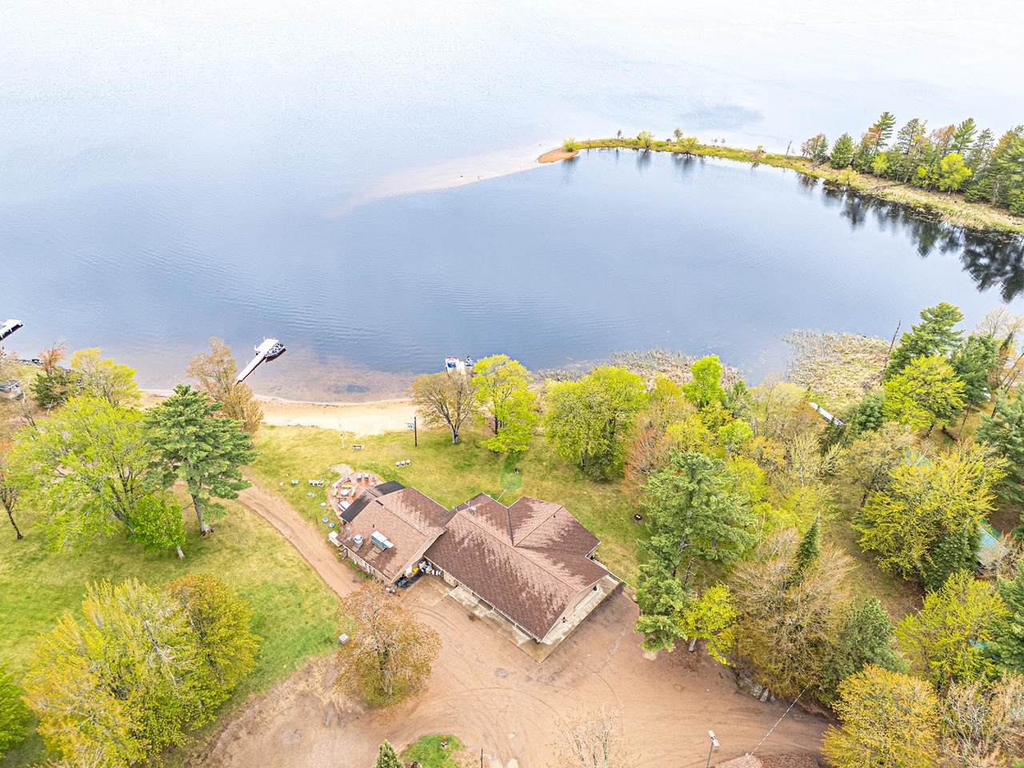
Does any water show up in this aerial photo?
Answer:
Yes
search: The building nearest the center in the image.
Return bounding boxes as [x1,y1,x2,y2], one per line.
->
[338,479,606,653]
